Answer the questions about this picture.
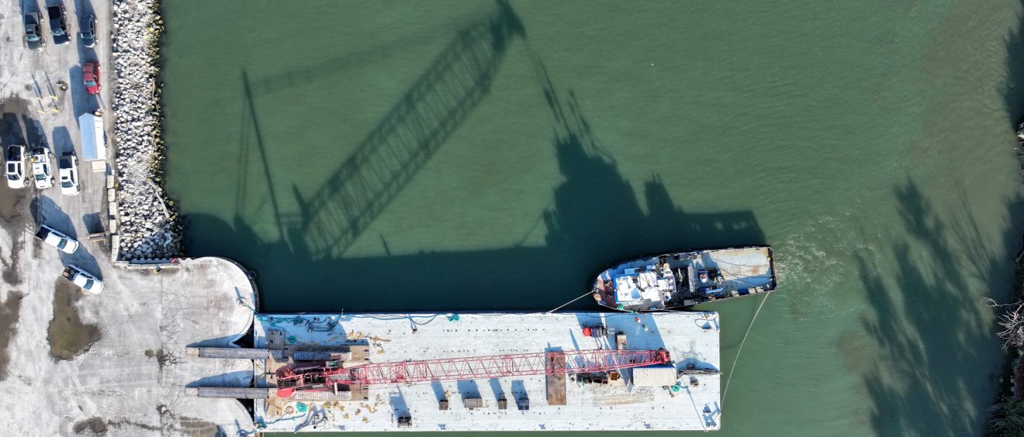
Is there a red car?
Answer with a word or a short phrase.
Yes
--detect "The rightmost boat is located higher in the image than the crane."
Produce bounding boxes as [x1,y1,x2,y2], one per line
[591,244,777,312]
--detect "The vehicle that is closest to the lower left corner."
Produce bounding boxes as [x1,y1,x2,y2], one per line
[60,262,107,294]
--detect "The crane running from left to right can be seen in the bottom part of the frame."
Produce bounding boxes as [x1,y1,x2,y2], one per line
[266,339,673,406]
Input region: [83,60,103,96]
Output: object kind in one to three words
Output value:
car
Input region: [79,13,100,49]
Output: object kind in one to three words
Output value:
car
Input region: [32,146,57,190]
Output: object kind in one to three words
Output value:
truck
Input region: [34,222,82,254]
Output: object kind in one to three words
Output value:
truck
